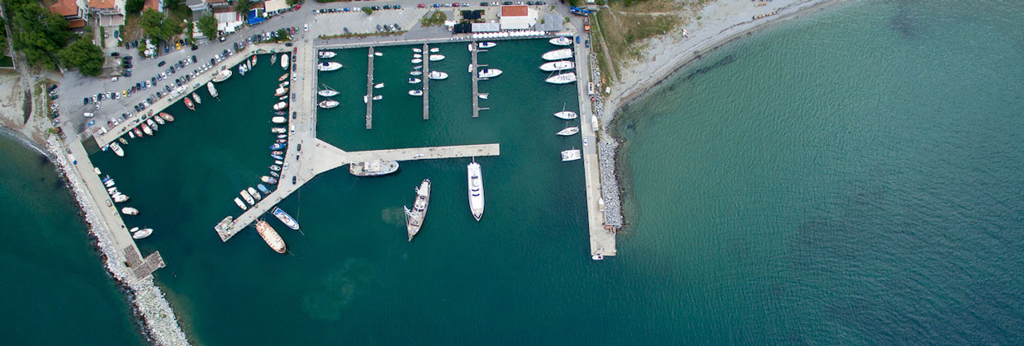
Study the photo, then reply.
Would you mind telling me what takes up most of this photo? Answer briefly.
water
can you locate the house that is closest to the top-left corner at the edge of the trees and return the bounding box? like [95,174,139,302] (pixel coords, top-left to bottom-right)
[51,0,93,30]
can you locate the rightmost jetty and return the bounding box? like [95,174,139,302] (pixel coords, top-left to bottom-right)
[572,31,616,256]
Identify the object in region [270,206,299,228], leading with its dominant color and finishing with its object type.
white boat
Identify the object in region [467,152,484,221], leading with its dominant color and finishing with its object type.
white boat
